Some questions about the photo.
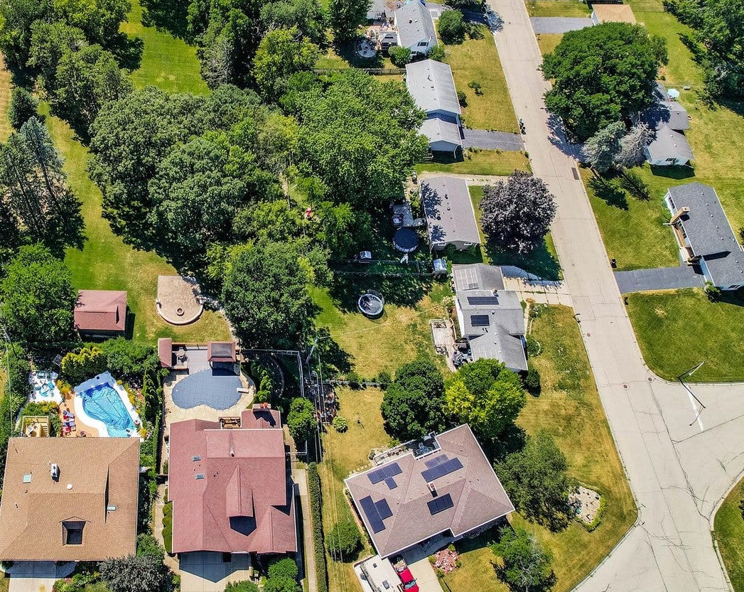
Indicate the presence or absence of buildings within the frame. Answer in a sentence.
Yes, the photo shows a building.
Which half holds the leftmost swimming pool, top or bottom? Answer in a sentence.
The bottom half of the photo is where the leftmost swimming pool is.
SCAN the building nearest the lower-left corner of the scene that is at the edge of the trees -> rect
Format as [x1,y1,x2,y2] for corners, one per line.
[0,437,143,561]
